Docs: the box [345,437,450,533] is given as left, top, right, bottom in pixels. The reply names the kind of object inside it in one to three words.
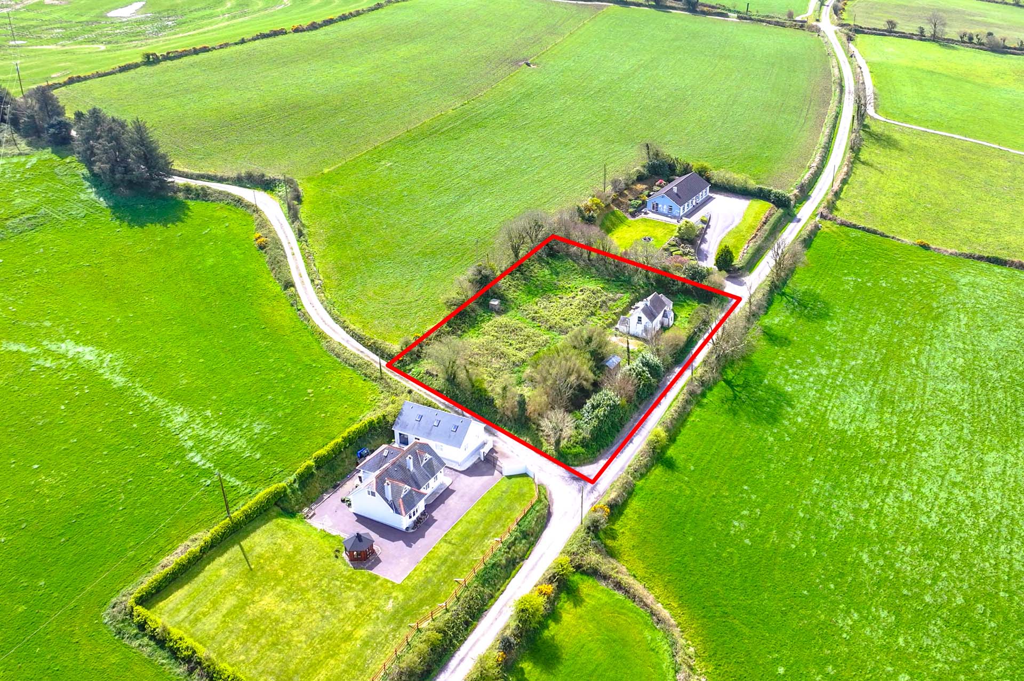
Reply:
house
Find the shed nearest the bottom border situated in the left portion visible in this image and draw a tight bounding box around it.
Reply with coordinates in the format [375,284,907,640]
[343,531,375,561]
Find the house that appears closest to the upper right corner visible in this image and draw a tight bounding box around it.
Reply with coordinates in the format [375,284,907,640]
[648,173,709,218]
